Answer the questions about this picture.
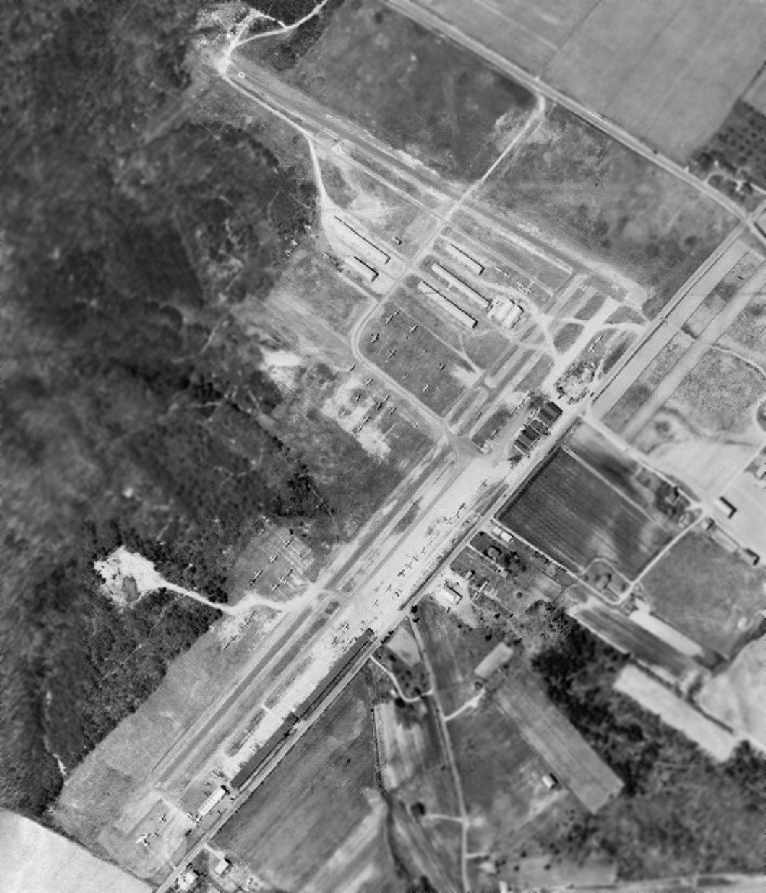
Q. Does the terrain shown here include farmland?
Yes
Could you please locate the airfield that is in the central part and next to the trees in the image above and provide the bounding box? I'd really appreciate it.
[120,51,650,868]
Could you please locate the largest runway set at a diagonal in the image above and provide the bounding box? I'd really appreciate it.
[150,266,622,798]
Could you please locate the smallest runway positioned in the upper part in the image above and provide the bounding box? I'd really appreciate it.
[229,51,650,309]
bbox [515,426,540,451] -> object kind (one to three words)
hangar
